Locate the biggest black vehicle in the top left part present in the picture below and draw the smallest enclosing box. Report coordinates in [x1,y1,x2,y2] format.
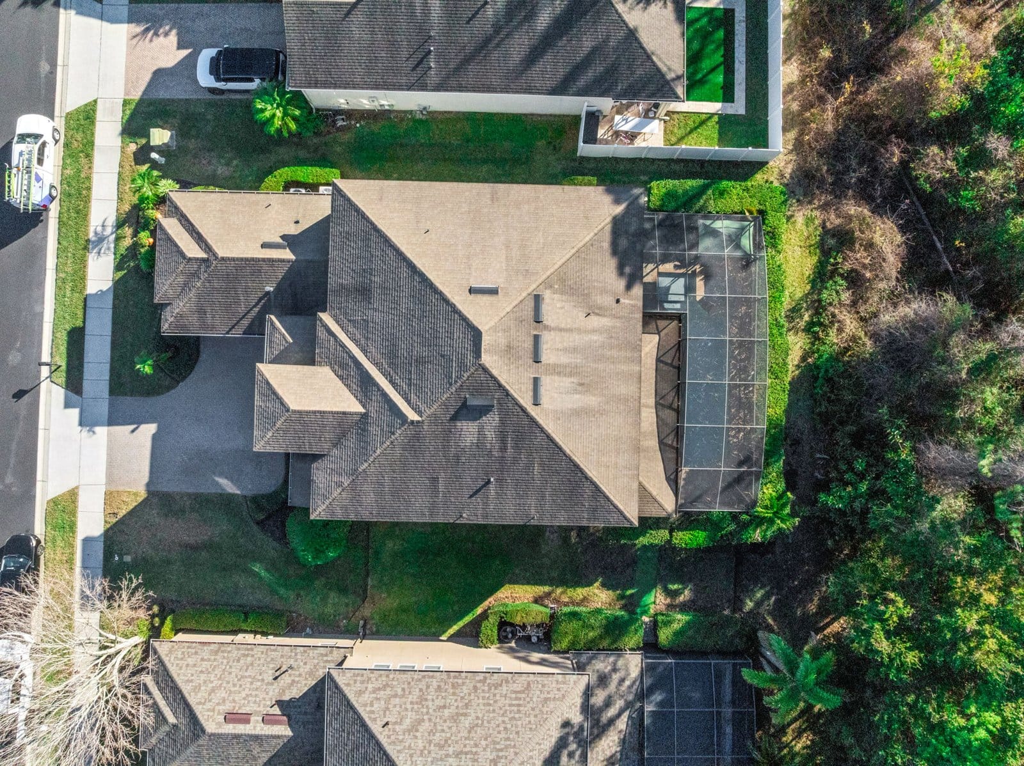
[195,45,284,93]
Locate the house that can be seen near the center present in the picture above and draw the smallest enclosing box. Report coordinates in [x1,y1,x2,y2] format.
[153,178,682,528]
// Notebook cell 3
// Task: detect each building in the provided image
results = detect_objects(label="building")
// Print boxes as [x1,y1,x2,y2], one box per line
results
[138,631,644,766]
[278,0,686,117]
[153,178,682,528]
